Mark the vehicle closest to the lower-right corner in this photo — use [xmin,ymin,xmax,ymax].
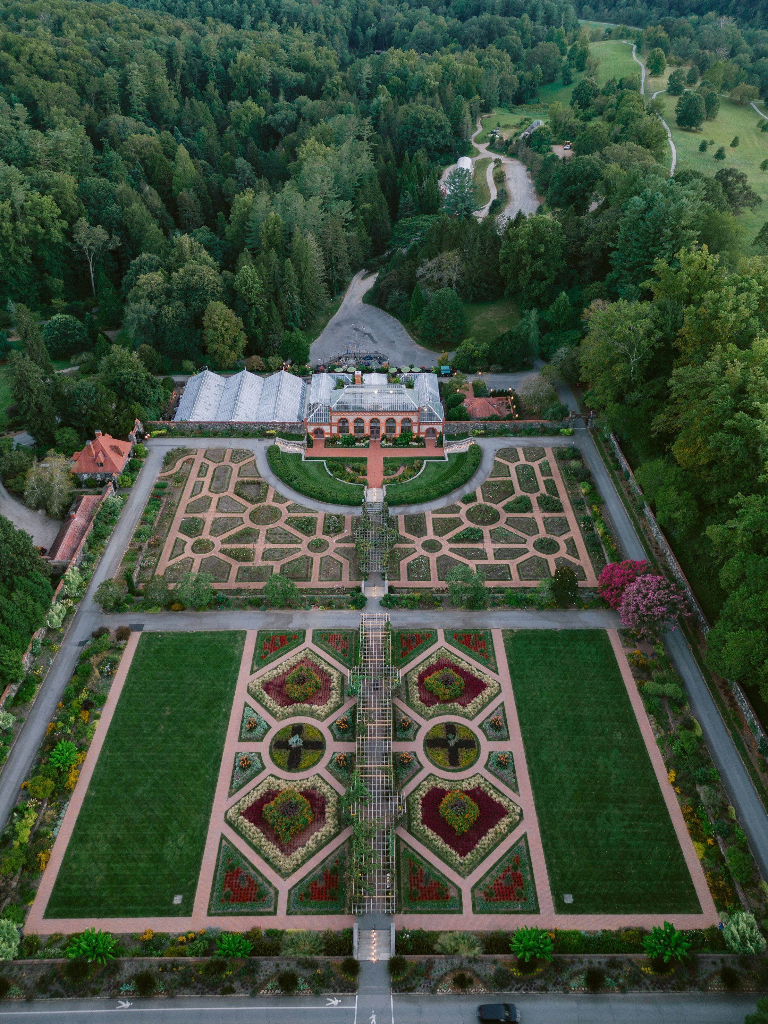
[476,1000,521,1024]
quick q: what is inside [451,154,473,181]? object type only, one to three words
house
